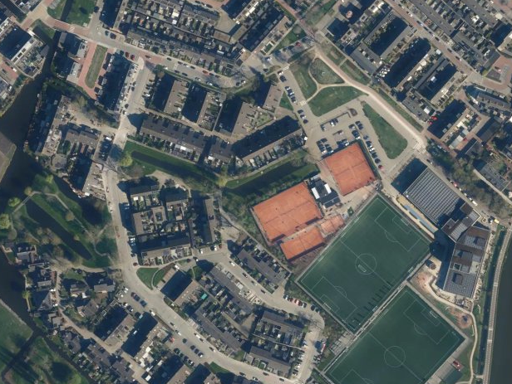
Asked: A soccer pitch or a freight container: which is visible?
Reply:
soccer pitch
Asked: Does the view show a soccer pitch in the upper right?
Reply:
No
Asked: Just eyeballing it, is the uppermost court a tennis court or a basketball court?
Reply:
tennis court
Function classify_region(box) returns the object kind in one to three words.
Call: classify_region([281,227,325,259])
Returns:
tennis court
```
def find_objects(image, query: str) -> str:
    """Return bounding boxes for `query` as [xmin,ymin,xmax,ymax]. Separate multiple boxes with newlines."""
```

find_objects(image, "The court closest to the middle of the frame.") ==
[252,182,324,241]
